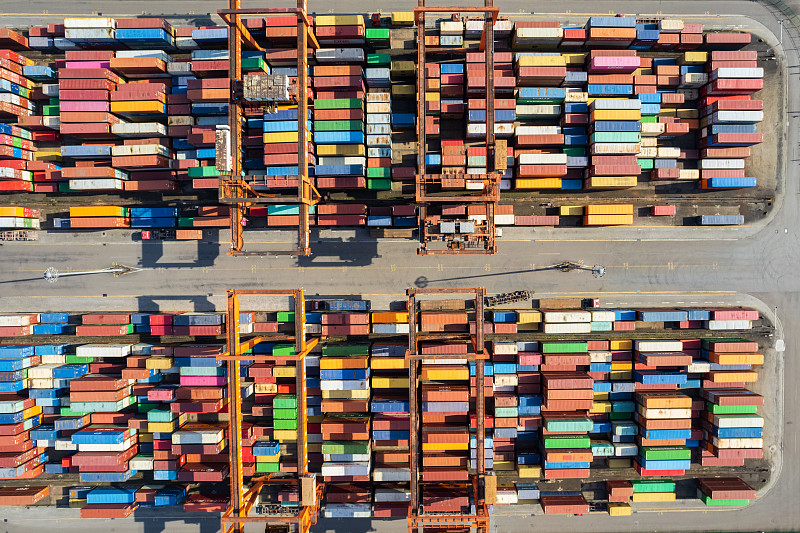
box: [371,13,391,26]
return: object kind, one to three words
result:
vehicle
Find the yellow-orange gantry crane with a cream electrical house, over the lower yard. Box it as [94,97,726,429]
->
[211,290,326,533]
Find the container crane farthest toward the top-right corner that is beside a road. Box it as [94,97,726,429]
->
[412,0,508,256]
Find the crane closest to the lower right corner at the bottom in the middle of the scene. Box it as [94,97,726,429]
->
[405,289,499,533]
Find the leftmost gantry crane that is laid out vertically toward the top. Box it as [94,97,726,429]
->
[209,0,327,256]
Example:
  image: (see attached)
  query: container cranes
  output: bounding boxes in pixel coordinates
[211,290,326,533]
[209,0,327,256]
[405,289,499,533]
[412,0,508,256]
